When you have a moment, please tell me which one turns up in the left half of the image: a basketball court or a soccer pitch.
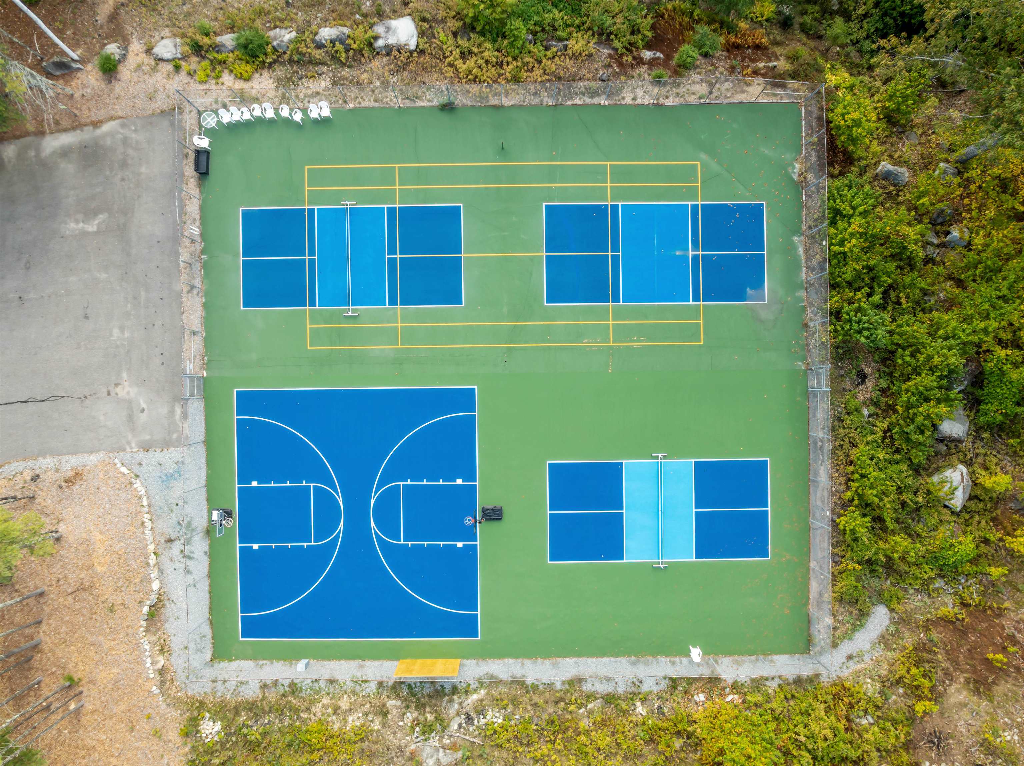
basketball court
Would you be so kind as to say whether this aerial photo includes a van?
No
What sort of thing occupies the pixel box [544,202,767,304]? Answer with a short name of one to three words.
sports court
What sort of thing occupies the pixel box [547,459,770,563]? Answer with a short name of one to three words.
sports court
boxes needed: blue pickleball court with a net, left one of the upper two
[240,204,464,309]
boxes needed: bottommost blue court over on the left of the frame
[235,387,479,641]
